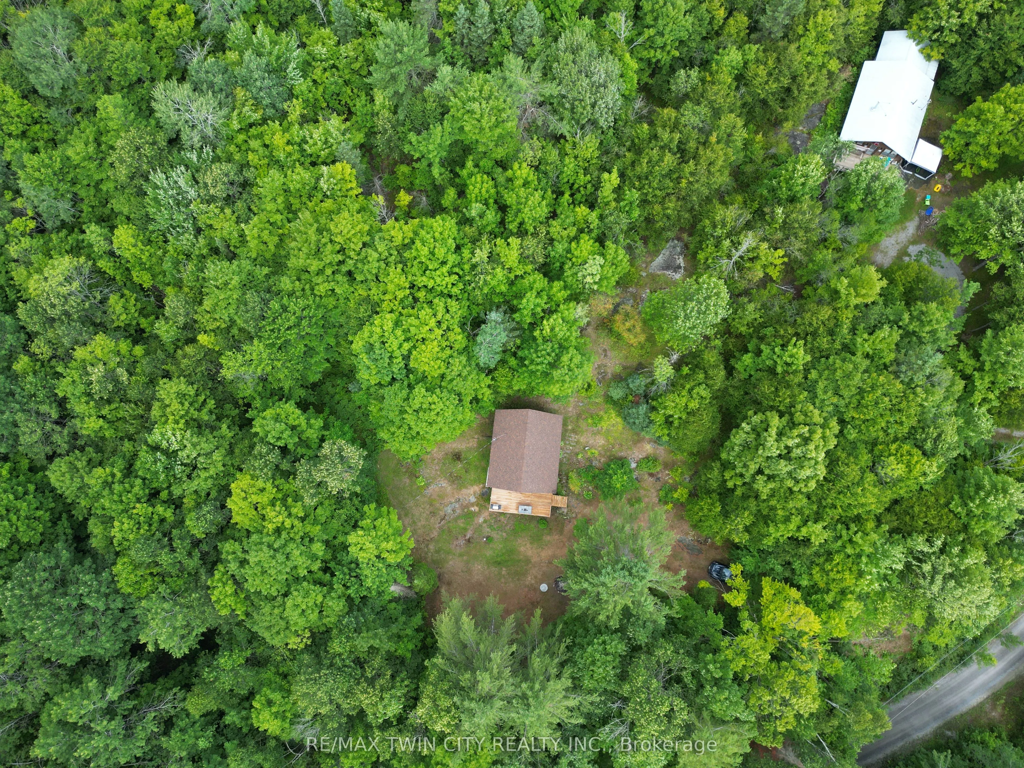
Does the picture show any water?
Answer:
No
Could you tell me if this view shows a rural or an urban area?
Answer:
rural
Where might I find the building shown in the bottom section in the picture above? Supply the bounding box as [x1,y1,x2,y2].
[486,409,568,517]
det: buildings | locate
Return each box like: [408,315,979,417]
[486,409,568,517]
[830,30,945,185]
